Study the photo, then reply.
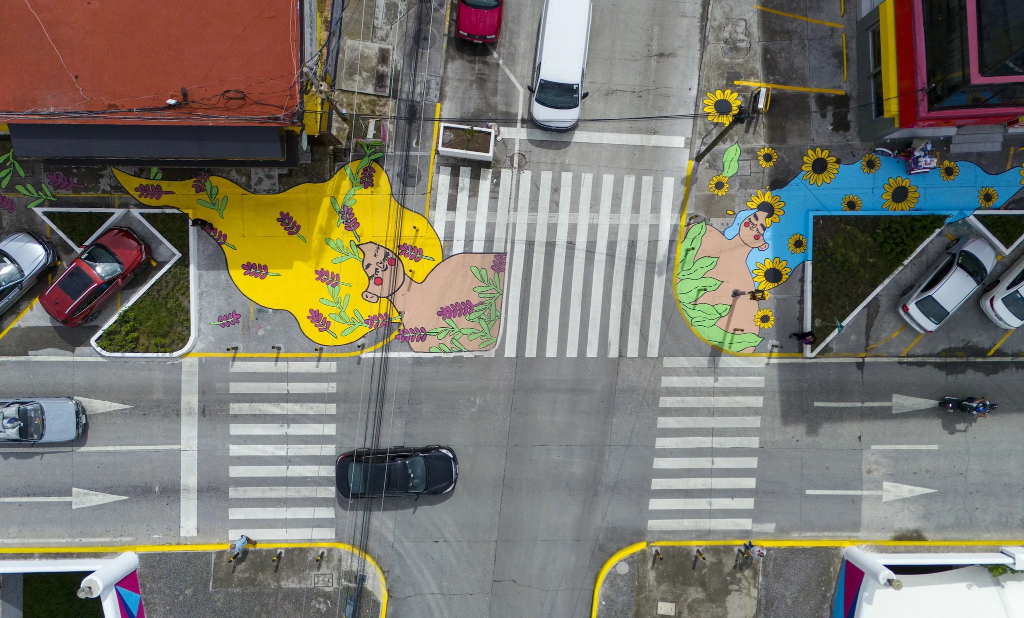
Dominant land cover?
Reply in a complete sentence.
The largest share of the image is taken up by paved ground.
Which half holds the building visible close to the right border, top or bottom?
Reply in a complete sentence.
Seen from above, the building visible close to the right border lies in the top half of the view.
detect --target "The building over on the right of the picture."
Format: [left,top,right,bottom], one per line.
[861,0,1024,143]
